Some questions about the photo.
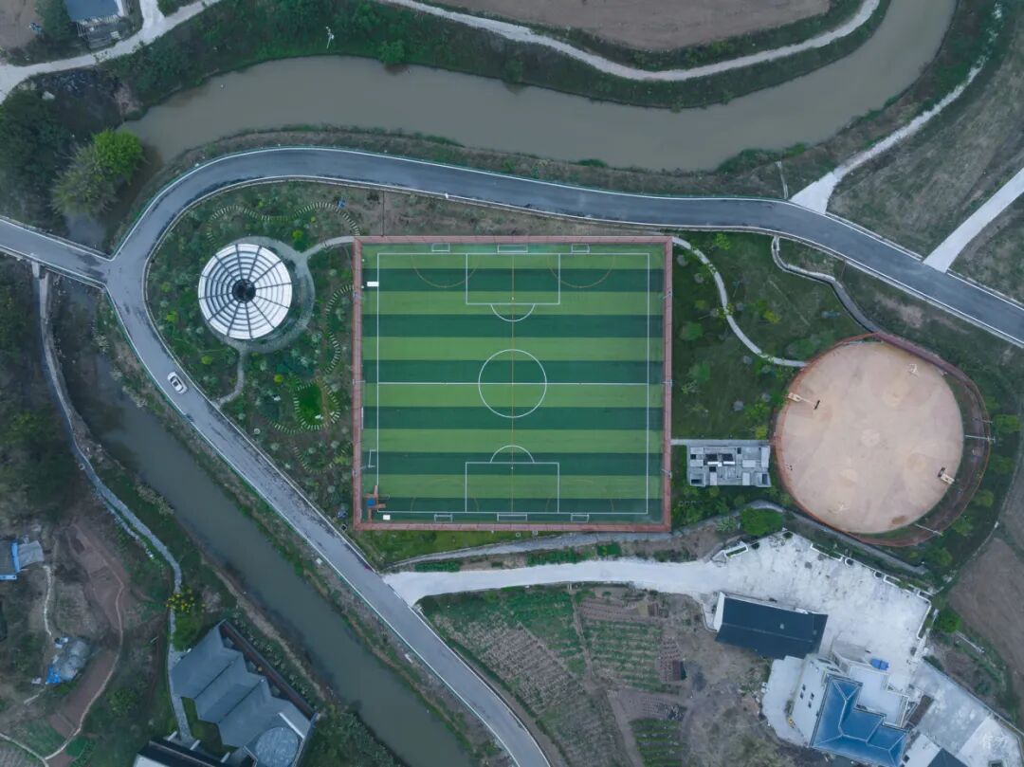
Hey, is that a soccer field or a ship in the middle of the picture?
soccer field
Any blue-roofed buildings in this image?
Yes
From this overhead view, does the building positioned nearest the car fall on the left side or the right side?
left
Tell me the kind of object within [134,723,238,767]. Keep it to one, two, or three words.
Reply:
building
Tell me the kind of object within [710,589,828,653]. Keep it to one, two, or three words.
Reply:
barn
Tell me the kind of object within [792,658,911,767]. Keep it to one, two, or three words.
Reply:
house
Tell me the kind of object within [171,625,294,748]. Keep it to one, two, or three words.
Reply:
house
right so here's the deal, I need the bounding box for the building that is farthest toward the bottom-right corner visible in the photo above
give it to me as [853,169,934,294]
[902,733,969,767]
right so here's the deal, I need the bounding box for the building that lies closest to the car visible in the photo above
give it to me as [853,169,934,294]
[199,243,299,337]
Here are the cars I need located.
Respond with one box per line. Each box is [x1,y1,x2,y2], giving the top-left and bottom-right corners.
[168,372,187,394]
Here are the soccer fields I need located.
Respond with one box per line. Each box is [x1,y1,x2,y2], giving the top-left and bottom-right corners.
[360,241,663,525]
